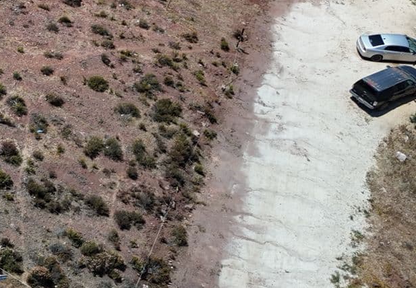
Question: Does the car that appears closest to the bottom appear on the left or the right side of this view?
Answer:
right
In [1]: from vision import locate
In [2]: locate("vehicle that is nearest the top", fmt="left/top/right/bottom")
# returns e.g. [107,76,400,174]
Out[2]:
[354,32,416,65]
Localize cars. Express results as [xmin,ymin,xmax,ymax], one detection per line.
[354,32,416,65]
[357,60,416,110]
